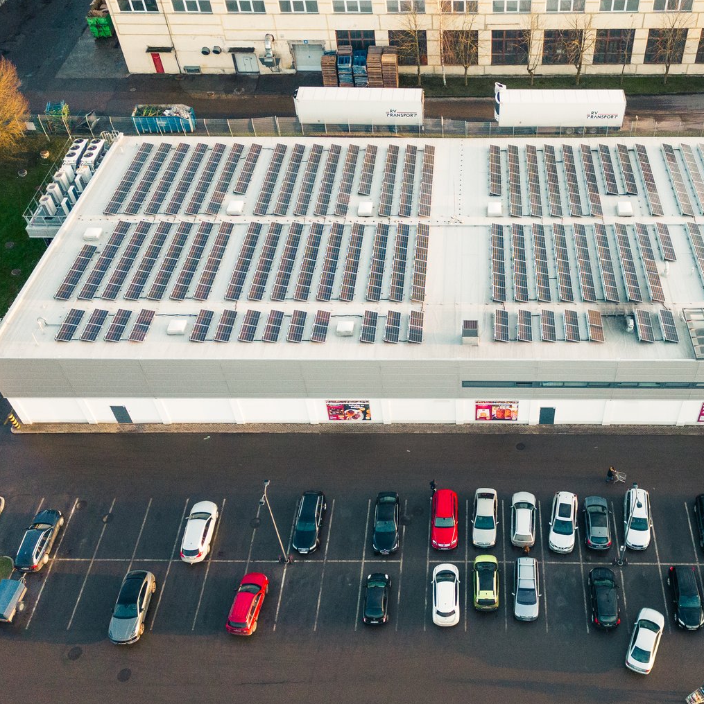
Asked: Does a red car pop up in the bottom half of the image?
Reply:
Yes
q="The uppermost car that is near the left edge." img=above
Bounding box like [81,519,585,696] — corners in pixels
[11,511,63,571]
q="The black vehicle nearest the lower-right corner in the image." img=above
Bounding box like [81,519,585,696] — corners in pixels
[669,569,704,632]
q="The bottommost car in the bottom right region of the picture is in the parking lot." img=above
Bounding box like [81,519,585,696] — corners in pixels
[625,608,667,677]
